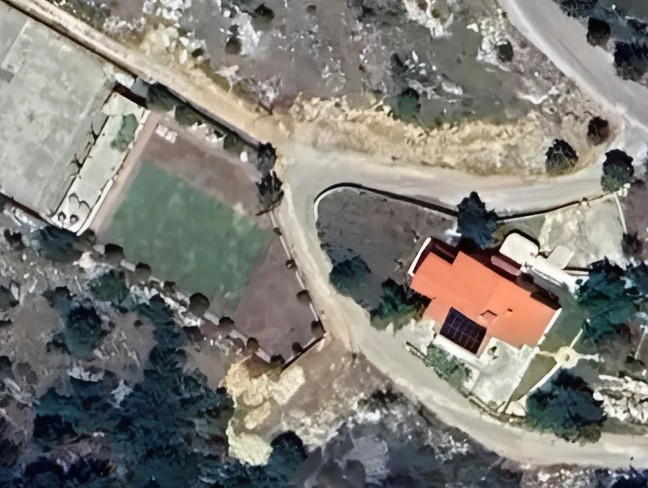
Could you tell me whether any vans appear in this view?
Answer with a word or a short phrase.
No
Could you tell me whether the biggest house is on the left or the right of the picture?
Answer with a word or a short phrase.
right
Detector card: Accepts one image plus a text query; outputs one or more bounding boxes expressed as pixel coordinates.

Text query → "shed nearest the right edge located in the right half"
[548,245,574,268]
